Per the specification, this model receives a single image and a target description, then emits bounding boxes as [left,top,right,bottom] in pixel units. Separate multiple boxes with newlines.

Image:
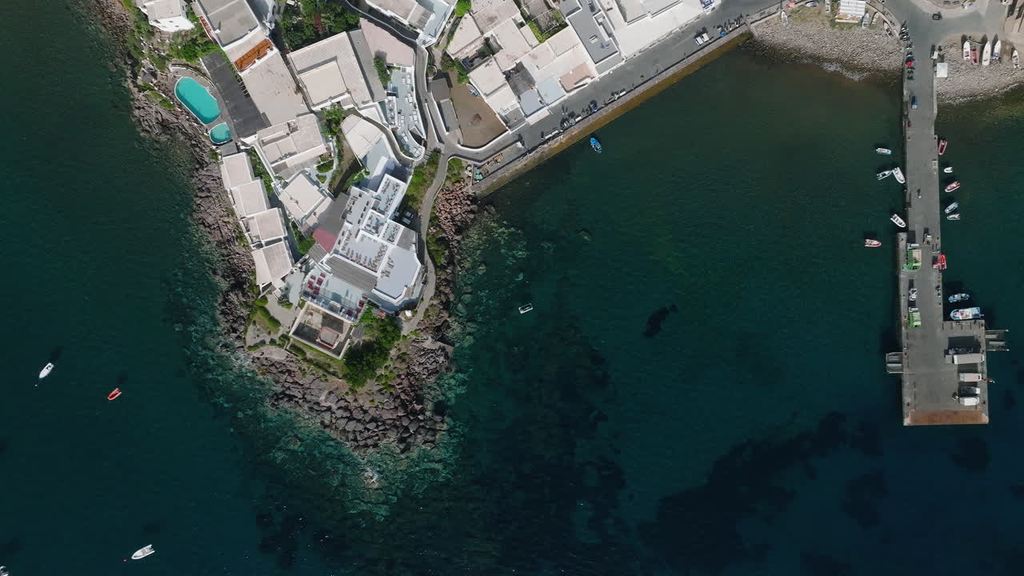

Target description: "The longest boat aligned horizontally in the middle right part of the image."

[949,307,985,319]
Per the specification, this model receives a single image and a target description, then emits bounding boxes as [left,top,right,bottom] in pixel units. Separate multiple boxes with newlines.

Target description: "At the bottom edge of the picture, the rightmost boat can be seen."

[131,543,157,560]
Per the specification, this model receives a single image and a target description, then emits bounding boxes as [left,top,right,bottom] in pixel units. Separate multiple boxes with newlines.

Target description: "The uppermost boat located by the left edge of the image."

[38,362,55,378]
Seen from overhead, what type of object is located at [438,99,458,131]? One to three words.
shed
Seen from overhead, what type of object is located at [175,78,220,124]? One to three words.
swimming pool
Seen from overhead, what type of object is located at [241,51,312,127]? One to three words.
house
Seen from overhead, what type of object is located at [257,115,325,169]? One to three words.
house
